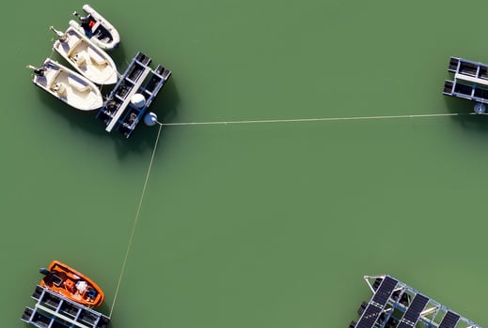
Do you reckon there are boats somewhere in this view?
Yes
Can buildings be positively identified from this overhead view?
No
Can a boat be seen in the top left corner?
Yes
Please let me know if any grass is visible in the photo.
No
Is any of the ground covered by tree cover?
No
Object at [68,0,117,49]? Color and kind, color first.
white boat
